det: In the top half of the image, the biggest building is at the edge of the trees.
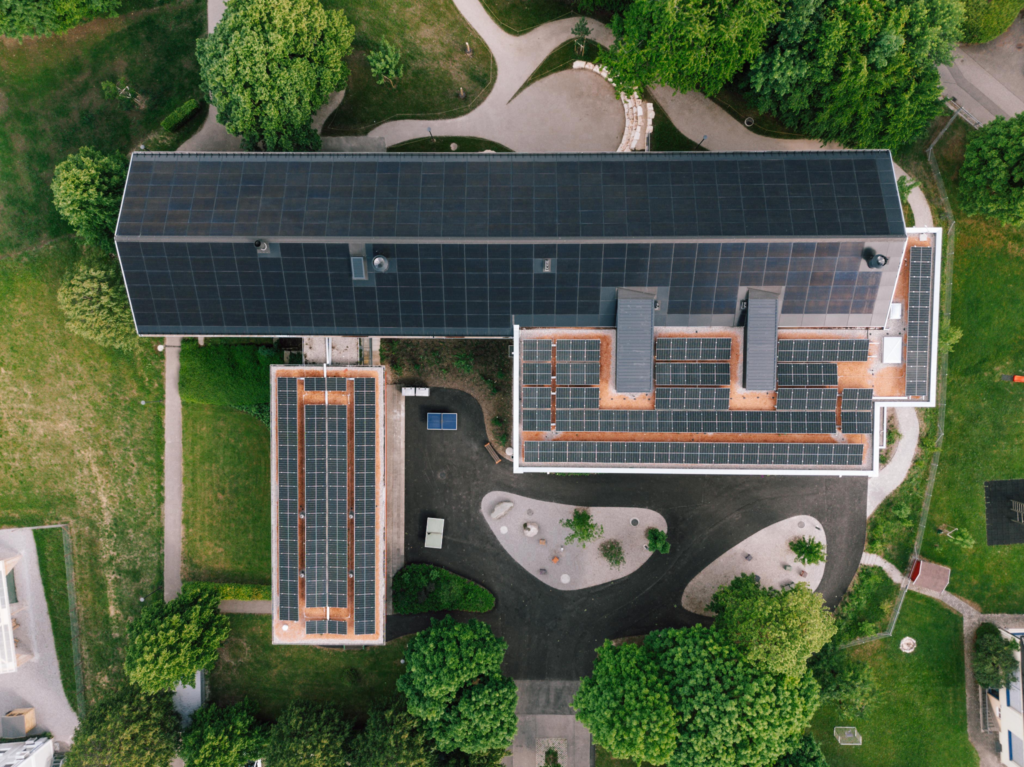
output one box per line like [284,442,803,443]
[114,151,908,393]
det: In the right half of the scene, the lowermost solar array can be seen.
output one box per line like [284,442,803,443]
[524,442,864,464]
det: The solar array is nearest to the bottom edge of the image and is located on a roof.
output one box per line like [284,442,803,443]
[306,620,347,636]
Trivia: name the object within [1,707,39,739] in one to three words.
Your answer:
shed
